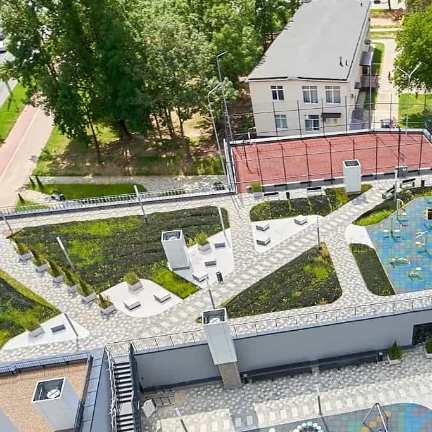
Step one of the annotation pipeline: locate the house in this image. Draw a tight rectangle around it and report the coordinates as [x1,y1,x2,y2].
[249,1,375,135]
